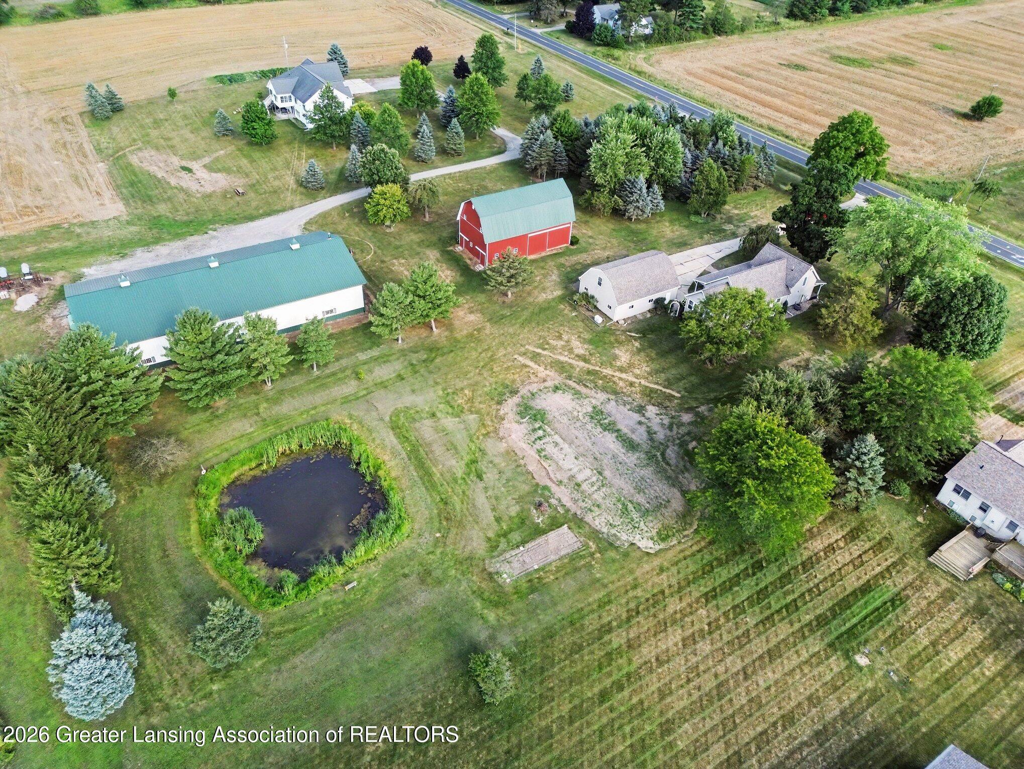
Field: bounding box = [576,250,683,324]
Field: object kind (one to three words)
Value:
building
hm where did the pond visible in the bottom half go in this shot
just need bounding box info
[217,450,387,585]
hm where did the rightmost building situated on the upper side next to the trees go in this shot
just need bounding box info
[684,241,829,316]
